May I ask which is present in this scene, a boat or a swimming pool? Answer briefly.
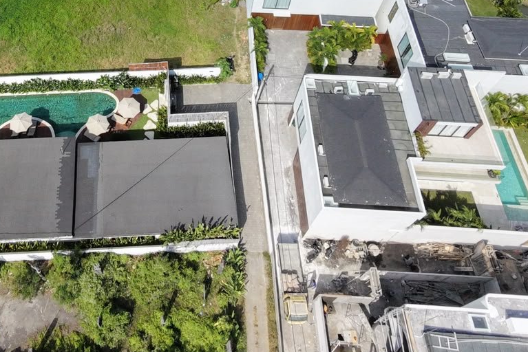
swimming pool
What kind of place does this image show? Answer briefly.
residential area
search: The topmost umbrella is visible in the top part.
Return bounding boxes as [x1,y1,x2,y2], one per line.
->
[116,97,140,118]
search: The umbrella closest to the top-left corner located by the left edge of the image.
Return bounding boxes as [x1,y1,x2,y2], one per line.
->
[9,113,32,134]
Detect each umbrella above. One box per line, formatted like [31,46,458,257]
[86,115,110,137]
[9,113,32,134]
[116,97,140,118]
